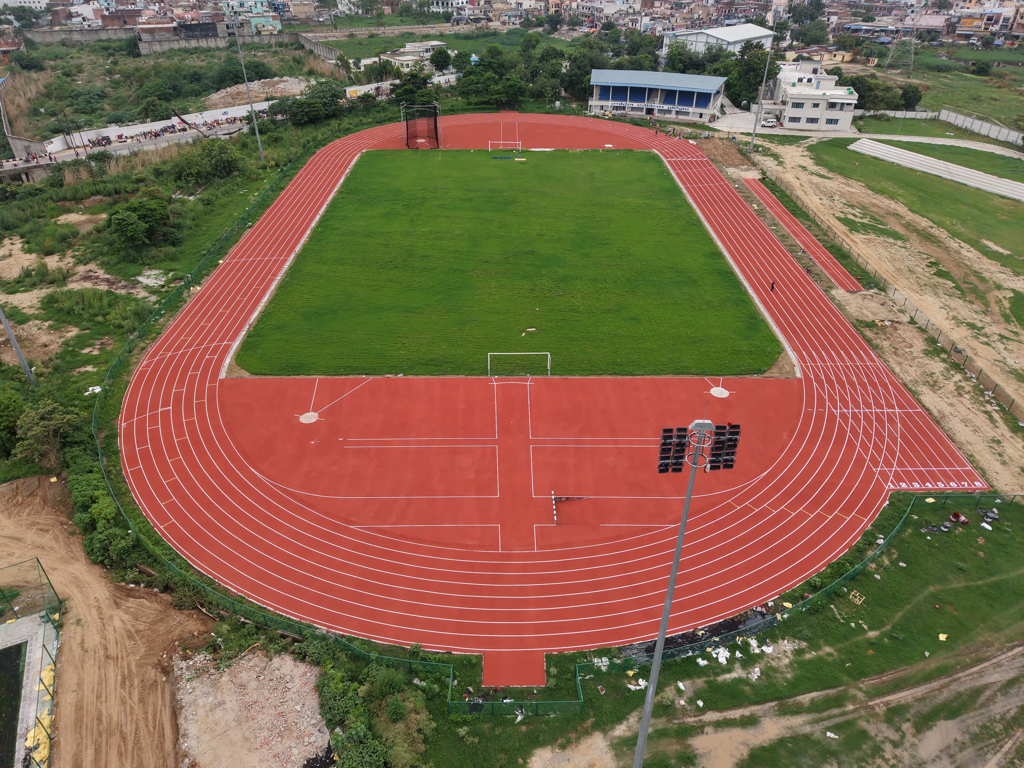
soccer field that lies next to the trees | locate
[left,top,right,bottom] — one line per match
[236,150,784,375]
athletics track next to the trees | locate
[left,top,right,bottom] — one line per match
[118,111,1005,686]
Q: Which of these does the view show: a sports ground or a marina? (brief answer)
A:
sports ground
